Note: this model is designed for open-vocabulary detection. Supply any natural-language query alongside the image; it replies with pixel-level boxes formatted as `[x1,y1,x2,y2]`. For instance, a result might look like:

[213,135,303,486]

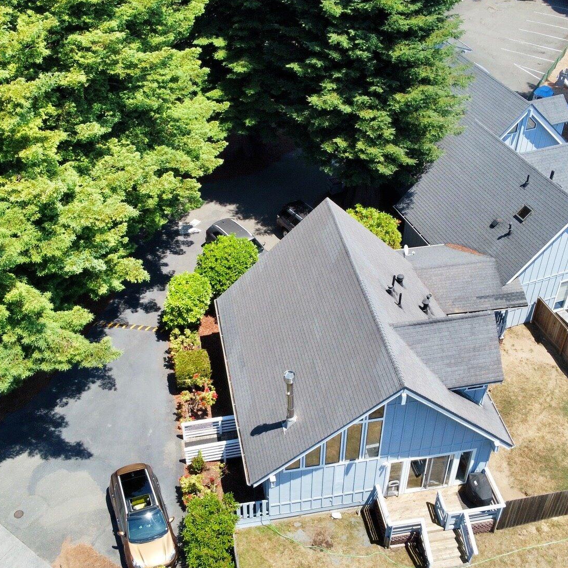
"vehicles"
[209,222,267,274]
[112,466,179,568]
[278,205,311,237]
